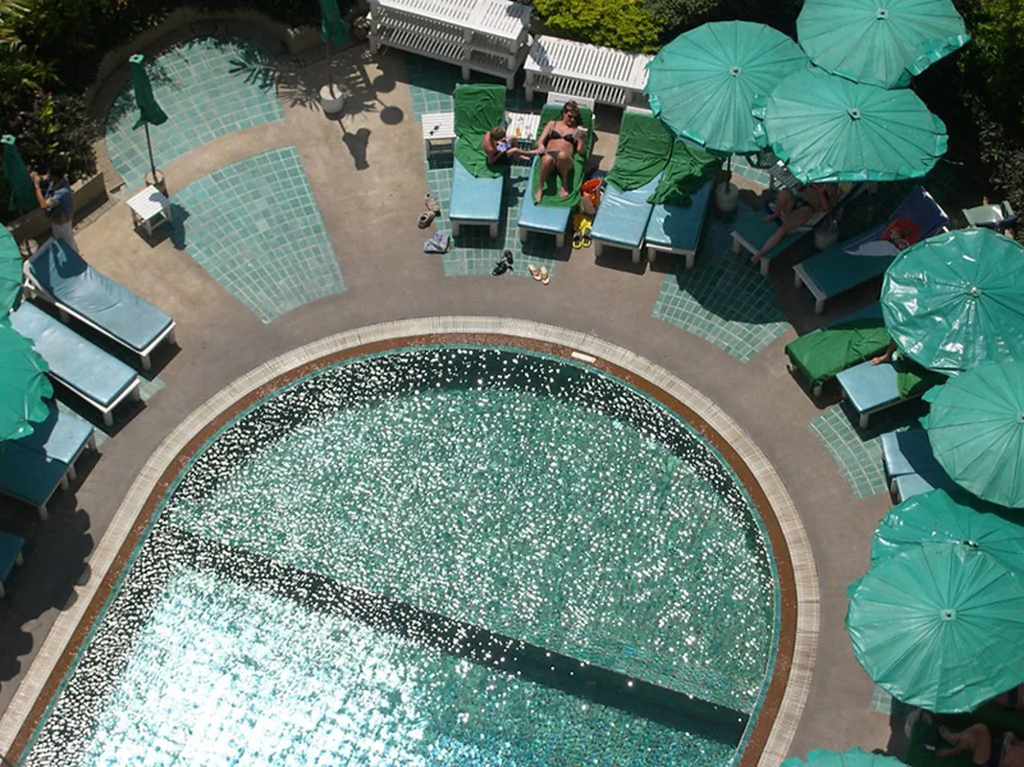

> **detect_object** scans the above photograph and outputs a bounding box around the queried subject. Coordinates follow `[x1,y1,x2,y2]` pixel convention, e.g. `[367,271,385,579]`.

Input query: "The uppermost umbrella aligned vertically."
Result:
[315,0,346,110]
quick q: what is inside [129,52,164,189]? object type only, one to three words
umbrella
